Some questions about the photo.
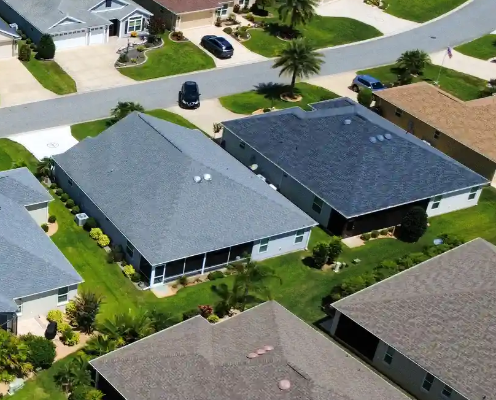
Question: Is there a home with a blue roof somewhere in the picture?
Yes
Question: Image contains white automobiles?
No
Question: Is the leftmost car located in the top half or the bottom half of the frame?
top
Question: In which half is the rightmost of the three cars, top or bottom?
top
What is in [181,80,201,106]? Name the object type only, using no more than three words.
car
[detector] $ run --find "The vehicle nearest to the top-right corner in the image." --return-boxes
[353,68,394,91]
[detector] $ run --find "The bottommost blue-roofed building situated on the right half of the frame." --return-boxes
[220,95,488,239]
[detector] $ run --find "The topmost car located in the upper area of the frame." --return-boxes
[203,36,231,54]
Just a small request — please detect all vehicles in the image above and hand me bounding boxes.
[203,36,231,54]
[181,80,201,106]
[353,68,394,91]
